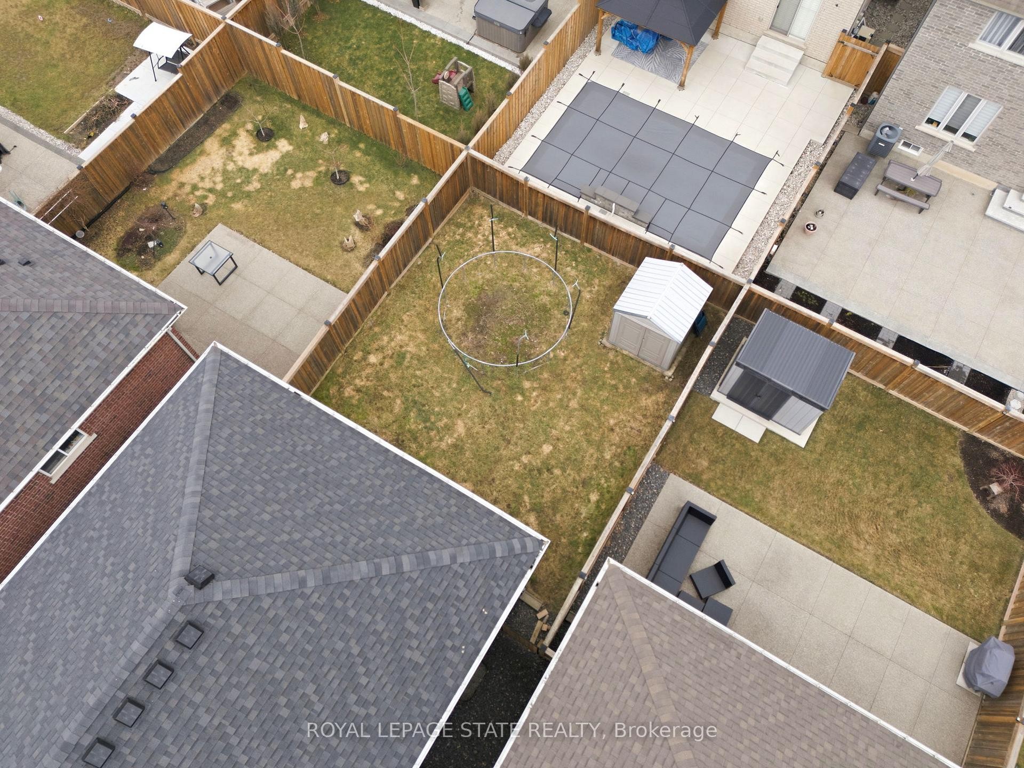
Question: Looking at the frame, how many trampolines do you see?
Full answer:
The photo contains exactly 1 trampoline.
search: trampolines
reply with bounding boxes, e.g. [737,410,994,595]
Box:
[436,206,581,395]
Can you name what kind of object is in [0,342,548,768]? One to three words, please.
house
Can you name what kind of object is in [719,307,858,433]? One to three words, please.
shed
